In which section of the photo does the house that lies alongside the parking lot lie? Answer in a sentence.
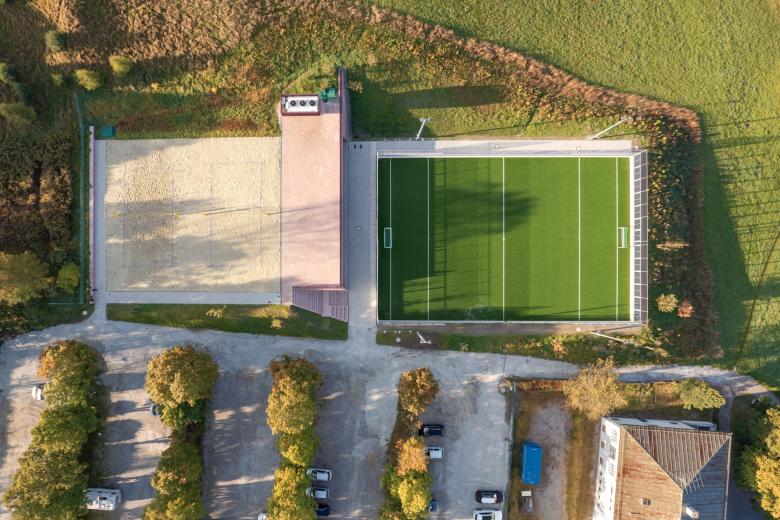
You can find the house that lies alongside the parking lot in the bottom right area of the picture.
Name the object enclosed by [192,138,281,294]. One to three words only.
sports court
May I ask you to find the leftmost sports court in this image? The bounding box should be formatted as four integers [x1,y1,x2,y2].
[107,138,192,294]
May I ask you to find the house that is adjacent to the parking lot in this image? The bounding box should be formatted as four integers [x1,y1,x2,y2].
[595,416,734,520]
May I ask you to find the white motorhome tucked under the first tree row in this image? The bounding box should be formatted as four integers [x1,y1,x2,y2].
[84,489,129,511]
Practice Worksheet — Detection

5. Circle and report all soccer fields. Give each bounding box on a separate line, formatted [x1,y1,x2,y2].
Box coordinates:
[377,155,636,323]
